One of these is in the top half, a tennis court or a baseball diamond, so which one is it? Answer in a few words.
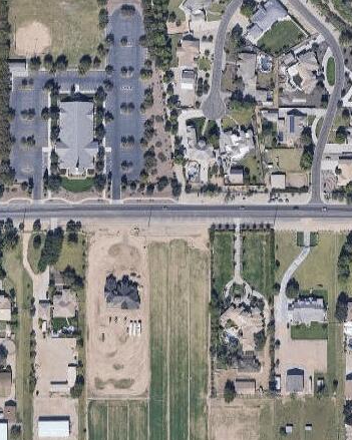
baseball diamond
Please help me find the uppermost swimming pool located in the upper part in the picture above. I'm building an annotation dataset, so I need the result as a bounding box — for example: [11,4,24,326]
[258,55,273,73]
